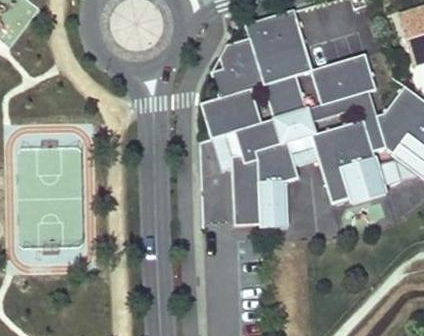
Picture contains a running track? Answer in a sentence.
Yes, you can see a running track in this photo.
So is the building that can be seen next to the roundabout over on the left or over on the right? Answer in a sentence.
The building that can be seen next to the roundabout is on the right side of the image.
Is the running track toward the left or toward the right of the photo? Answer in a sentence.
The running track sits on the left side.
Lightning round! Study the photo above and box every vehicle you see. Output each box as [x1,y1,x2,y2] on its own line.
[162,66,171,82]
[240,300,260,310]
[240,312,260,322]
[206,231,216,254]
[241,324,261,334]
[312,46,326,66]
[240,262,258,272]
[143,236,154,260]
[240,288,260,298]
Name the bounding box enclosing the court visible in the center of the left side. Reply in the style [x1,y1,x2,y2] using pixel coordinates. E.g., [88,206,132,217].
[16,135,82,264]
